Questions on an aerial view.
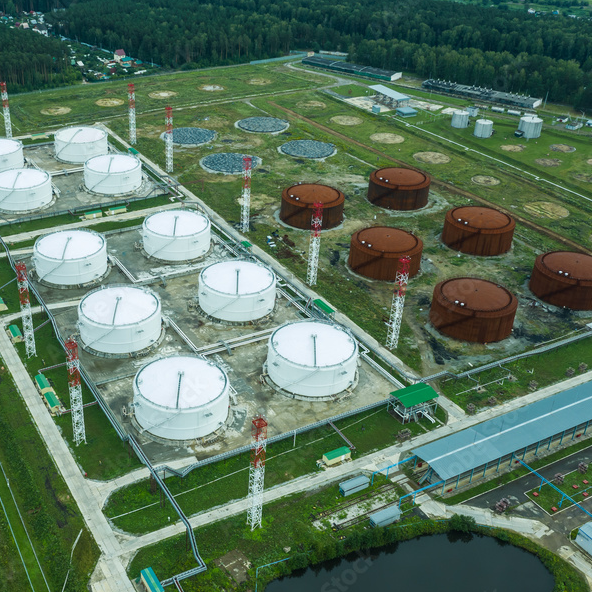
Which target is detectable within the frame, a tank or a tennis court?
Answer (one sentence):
Of the two, only a tank appears.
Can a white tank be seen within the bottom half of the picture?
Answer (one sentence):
Yes, a white tank is visible within the bottom half of the picture.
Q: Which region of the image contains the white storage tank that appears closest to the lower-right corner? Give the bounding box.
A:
[258,317,363,401]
